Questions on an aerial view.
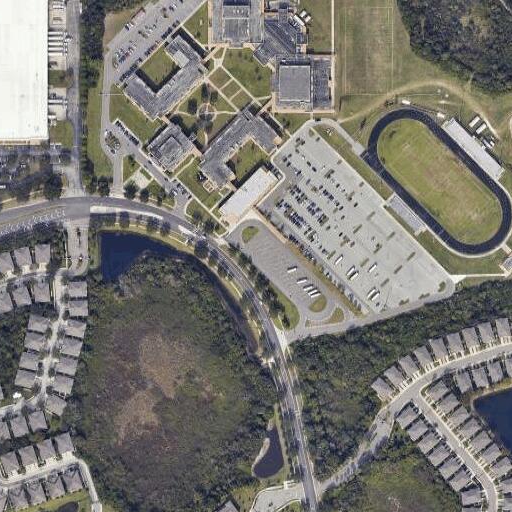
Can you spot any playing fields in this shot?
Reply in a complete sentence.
Yes, looking at the shot, I can spot a playing field.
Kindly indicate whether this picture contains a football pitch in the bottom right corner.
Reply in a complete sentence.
No, no football pitch can be made out in the bottom right corner.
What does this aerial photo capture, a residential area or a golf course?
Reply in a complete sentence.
The area seen from above is a residential area.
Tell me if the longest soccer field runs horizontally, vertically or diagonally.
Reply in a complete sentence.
In this picture, the longest soccer field lies diagonally.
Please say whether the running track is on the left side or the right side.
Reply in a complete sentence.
The running track appears in the right half of the scene.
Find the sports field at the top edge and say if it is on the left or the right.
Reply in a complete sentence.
The sports field at the top edge appears in the right half of the scene.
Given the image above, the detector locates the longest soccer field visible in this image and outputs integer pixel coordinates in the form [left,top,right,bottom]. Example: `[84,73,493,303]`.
[377,118,503,244]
